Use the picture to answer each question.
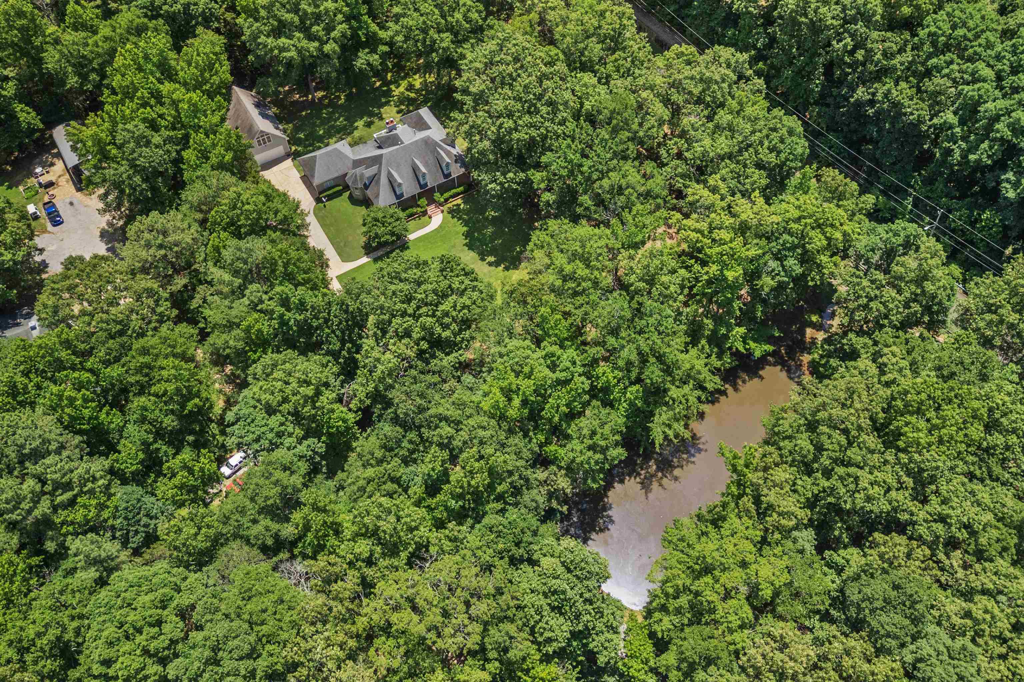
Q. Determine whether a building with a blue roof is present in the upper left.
No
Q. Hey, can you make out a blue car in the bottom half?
No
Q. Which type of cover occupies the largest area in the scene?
trees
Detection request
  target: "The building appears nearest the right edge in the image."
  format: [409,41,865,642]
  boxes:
[296,106,471,220]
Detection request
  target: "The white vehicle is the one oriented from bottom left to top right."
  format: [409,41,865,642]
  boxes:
[219,450,249,479]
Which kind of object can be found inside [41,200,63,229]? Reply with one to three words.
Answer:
truck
